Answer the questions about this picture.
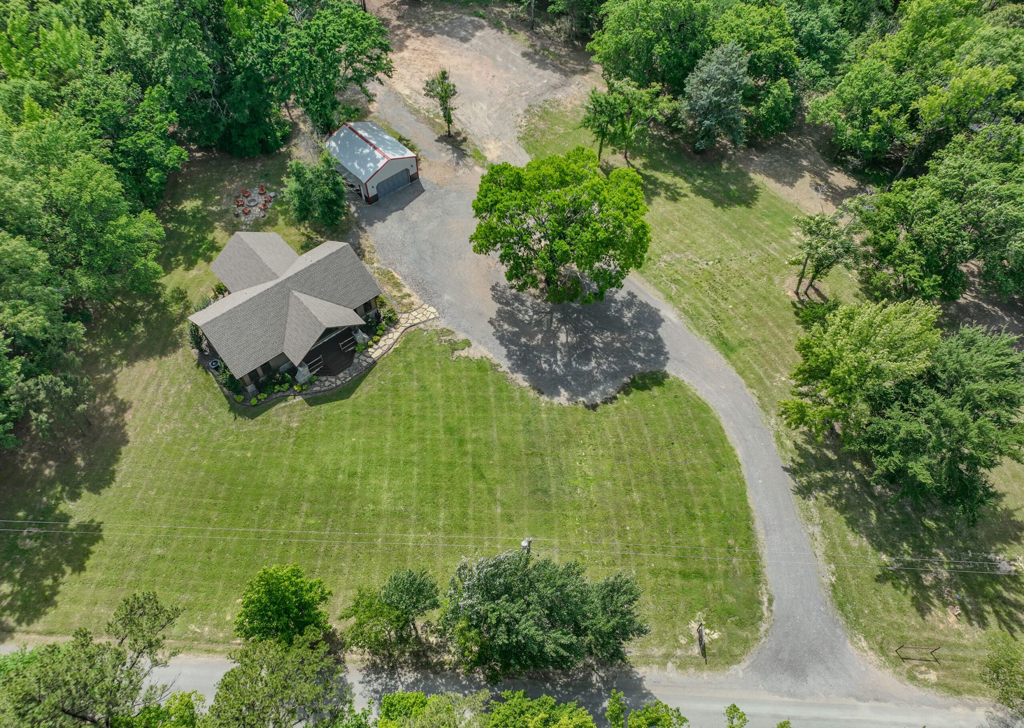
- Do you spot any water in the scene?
No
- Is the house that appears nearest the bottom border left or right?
left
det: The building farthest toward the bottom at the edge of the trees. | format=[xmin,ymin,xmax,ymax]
[188,232,382,393]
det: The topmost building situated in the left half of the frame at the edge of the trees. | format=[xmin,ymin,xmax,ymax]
[322,119,421,206]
